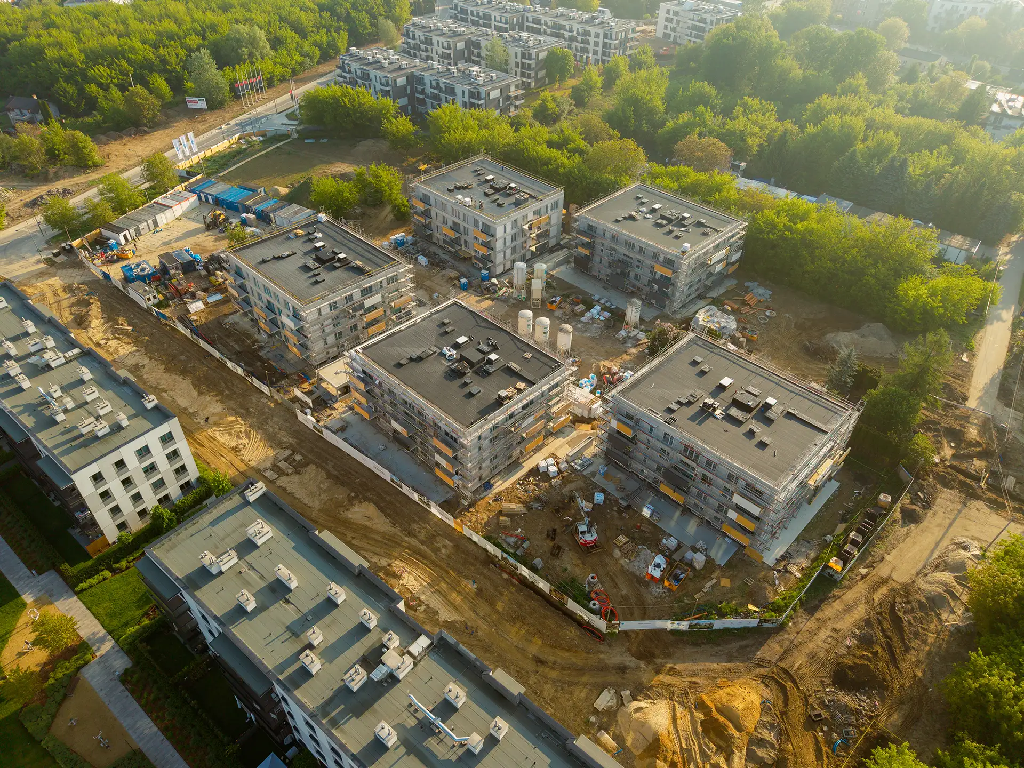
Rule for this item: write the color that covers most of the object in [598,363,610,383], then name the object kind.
red vehicle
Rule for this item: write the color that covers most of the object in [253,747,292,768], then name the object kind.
blue gazebo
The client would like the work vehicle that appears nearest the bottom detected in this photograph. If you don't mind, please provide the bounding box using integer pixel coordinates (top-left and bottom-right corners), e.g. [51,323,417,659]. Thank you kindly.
[568,495,606,560]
